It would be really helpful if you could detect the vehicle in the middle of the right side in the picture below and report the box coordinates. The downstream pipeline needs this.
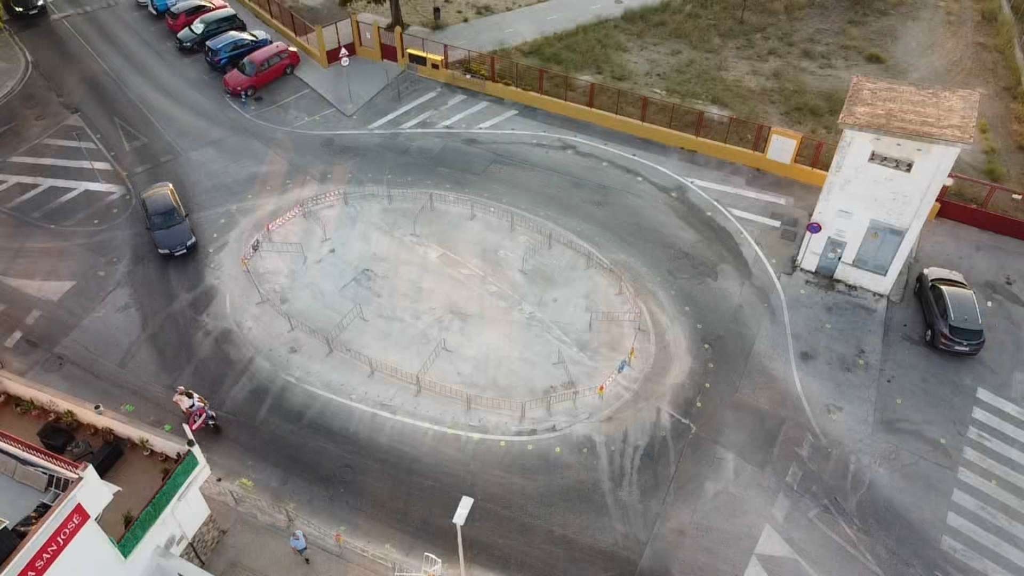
[913,268,989,360]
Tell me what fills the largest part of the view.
paved ground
